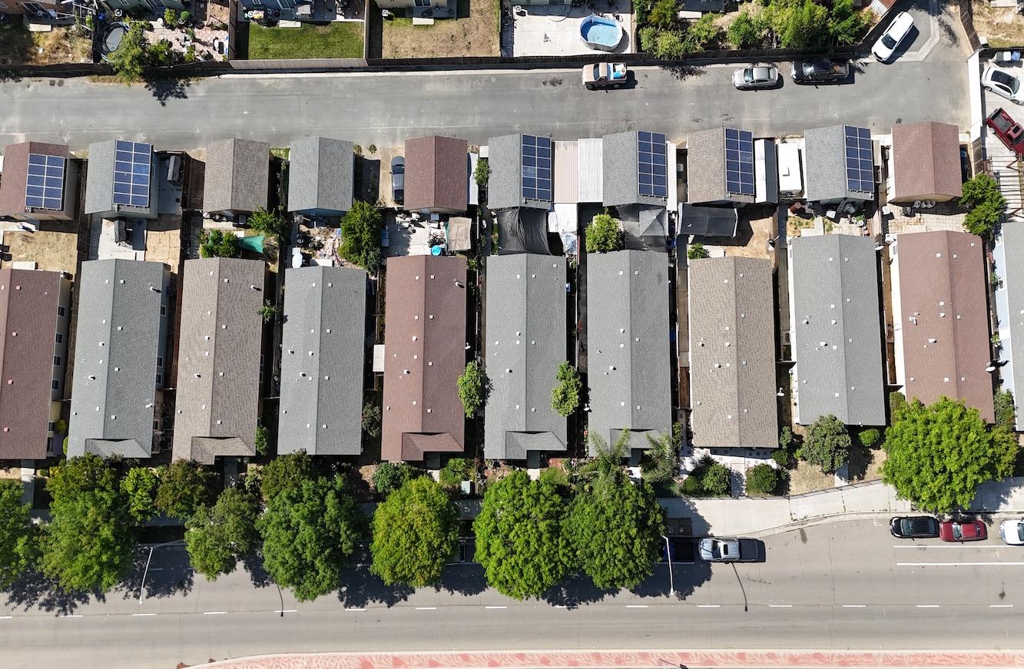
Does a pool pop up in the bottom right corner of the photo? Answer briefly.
No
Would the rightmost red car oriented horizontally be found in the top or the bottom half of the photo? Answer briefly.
bottom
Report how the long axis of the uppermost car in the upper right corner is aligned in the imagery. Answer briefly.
on a diagonal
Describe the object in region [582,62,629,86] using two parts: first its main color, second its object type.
white truck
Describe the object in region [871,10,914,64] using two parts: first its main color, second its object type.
white car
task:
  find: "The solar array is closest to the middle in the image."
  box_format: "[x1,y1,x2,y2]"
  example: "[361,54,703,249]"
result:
[522,135,551,202]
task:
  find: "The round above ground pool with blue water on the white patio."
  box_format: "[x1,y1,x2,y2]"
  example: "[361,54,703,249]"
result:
[582,18,621,53]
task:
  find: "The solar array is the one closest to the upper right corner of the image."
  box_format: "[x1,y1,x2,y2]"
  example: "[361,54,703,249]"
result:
[845,126,874,193]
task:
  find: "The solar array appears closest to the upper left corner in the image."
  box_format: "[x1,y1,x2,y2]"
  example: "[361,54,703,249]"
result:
[25,154,64,211]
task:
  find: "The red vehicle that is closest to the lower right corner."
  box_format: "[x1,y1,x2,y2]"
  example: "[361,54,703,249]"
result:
[937,520,988,543]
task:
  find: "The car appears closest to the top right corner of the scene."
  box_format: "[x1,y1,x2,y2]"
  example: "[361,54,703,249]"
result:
[981,70,1024,105]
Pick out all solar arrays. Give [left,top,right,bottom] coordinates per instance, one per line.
[725,128,754,196]
[522,135,551,202]
[25,154,64,211]
[113,141,151,208]
[638,131,667,198]
[845,126,874,193]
